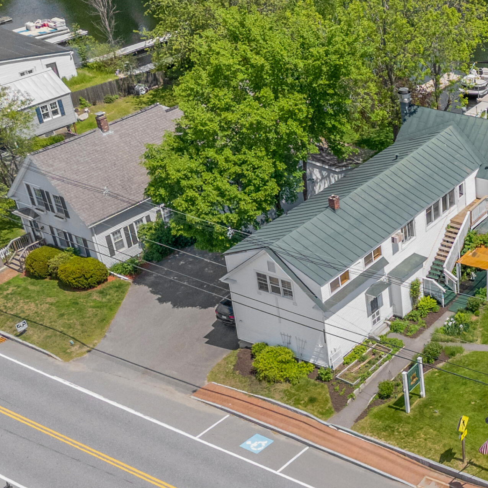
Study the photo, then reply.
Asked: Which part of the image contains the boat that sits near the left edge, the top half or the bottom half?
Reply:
top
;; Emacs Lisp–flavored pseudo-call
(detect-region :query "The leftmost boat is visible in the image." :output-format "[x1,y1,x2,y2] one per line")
[2,15,73,37]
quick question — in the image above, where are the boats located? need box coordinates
[446,47,488,93]
[2,15,73,37]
